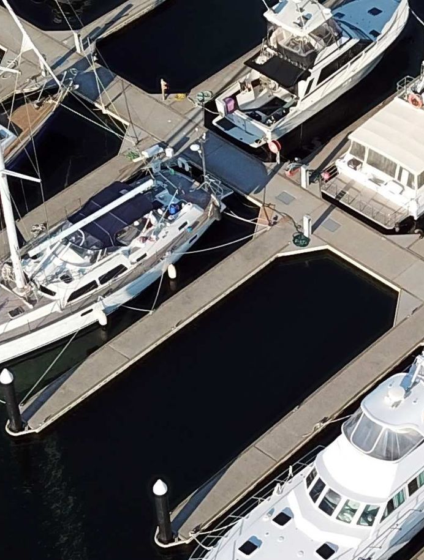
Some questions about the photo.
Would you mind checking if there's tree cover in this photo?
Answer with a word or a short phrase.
No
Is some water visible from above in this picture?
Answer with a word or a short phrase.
Yes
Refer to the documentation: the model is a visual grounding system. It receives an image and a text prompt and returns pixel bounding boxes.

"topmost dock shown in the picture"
[43,0,172,62]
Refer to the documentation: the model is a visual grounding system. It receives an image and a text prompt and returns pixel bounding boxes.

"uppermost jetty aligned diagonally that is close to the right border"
[257,68,424,194]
